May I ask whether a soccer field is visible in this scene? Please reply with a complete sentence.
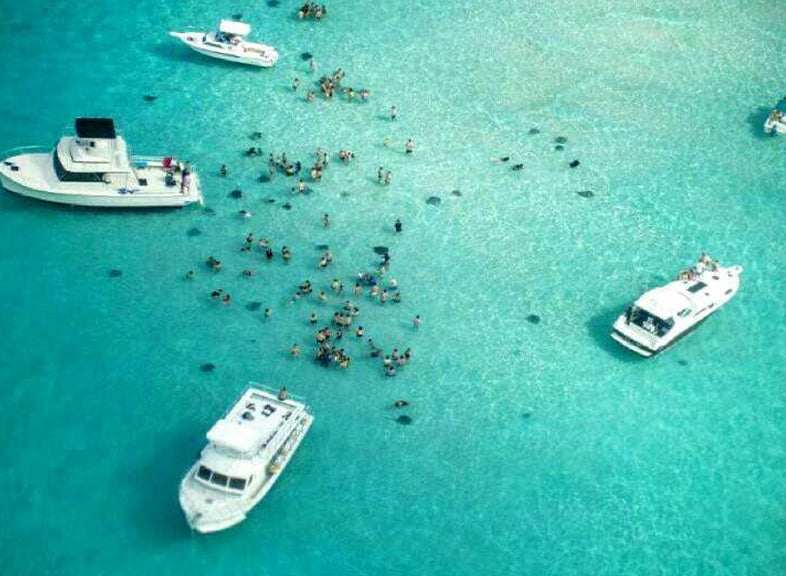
No, no soccer field is visible in the scene.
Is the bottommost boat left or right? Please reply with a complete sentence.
The bottommost boat appears in the left half of the scene.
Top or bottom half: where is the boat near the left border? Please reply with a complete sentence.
It is in the top half that the boat near the left border appears.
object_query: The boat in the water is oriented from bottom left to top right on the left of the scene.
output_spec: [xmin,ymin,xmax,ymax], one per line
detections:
[183,378,316,538]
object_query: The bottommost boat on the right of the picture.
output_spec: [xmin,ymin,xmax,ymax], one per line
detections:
[610,253,748,363]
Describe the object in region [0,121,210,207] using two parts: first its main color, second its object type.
white boat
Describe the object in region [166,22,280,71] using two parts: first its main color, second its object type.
white boat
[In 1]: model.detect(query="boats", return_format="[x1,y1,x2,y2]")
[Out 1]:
[183,378,316,538]
[0,121,210,207]
[764,90,786,141]
[610,253,748,363]
[166,22,280,71]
